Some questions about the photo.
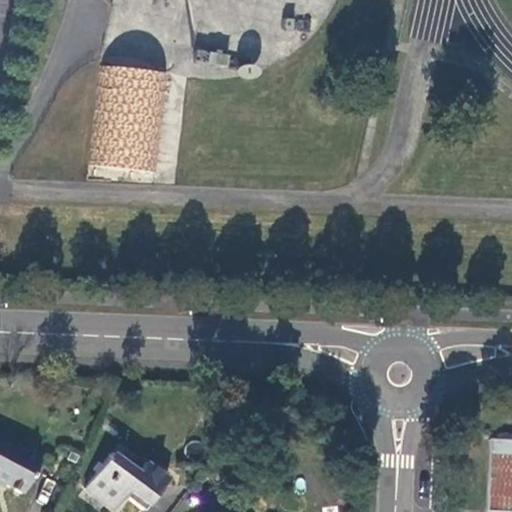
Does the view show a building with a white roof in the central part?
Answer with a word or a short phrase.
No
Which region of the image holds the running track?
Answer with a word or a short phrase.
top right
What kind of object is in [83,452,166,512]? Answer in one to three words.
house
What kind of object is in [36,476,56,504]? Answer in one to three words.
vehicle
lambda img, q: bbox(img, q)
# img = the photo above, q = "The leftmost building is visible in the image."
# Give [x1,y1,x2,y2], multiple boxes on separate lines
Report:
[0,448,42,499]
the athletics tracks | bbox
[410,0,512,83]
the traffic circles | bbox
[352,326,448,420]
